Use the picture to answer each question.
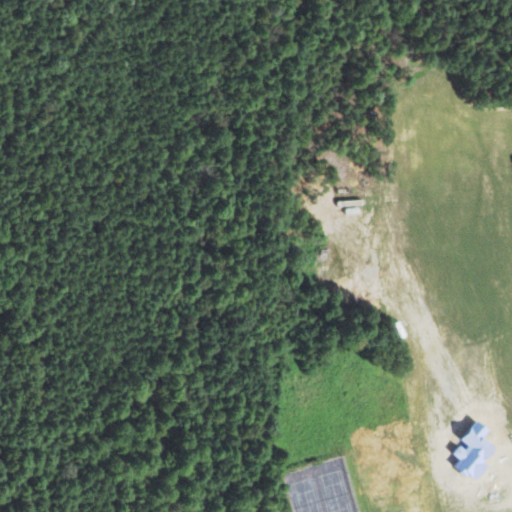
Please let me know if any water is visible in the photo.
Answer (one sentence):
No, the picture contains no water.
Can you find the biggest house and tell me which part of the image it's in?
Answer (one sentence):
The biggest house is located in the bottom right region of the scene.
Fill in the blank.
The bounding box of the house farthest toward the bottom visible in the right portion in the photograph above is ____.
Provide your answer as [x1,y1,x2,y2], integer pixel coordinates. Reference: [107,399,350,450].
[454,422,497,480]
